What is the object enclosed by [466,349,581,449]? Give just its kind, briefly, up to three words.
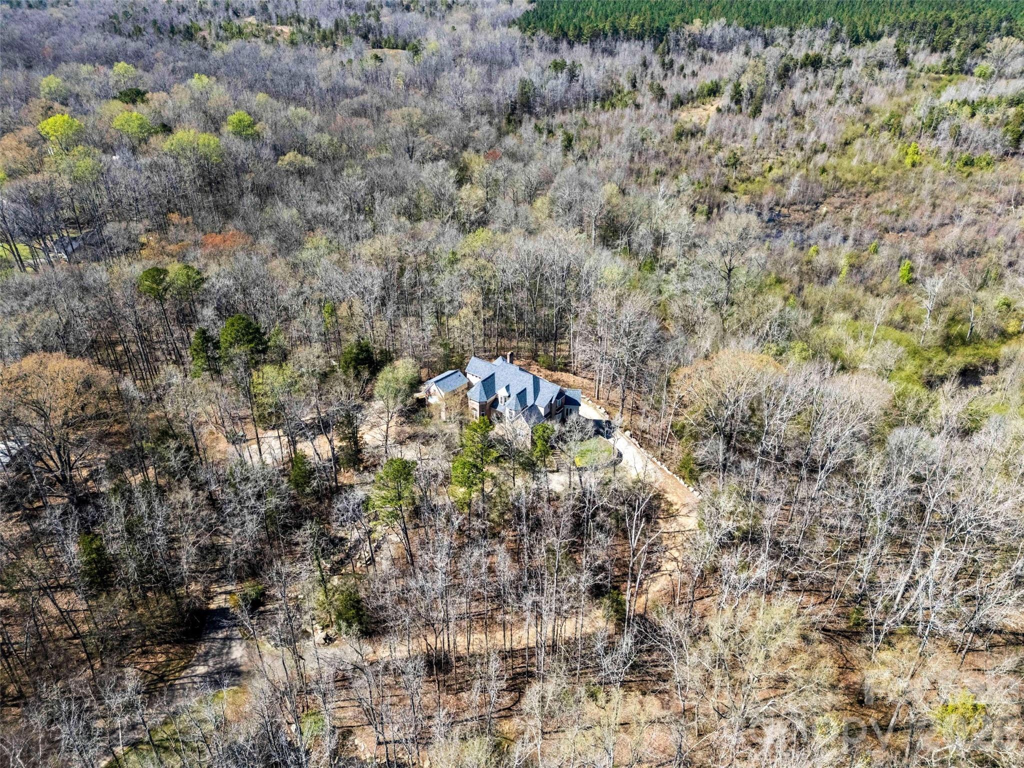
house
